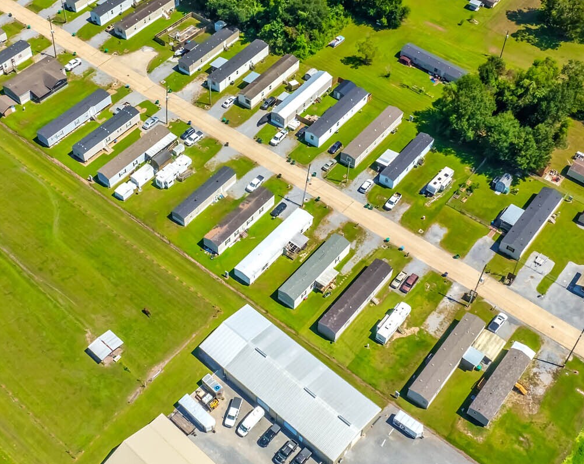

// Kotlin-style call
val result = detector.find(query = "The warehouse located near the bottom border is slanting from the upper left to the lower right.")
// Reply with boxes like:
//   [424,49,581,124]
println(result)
[196,307,381,464]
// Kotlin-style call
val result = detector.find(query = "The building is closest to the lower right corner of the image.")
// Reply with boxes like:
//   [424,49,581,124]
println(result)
[463,337,538,428]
